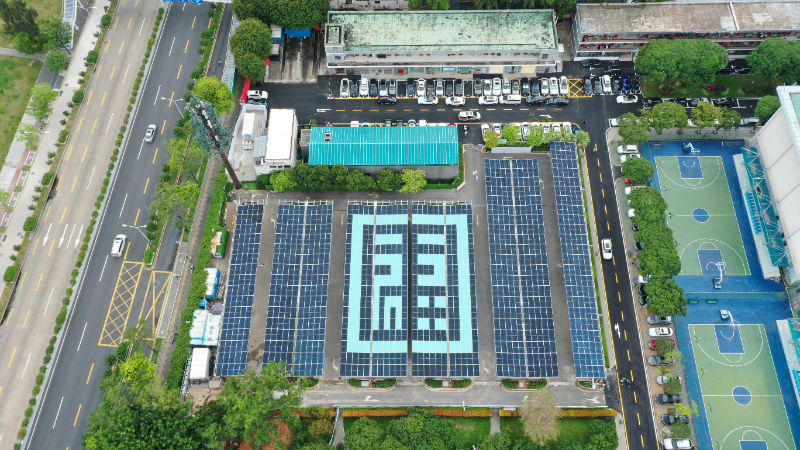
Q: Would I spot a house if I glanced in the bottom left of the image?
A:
No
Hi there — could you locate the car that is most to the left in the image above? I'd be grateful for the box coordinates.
[112,235,126,255]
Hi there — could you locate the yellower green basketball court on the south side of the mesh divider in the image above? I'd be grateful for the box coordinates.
[688,323,795,450]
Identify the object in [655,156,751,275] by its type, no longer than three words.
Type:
basketball court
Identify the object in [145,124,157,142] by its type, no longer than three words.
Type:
vehicle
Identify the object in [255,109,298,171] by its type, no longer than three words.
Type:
house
